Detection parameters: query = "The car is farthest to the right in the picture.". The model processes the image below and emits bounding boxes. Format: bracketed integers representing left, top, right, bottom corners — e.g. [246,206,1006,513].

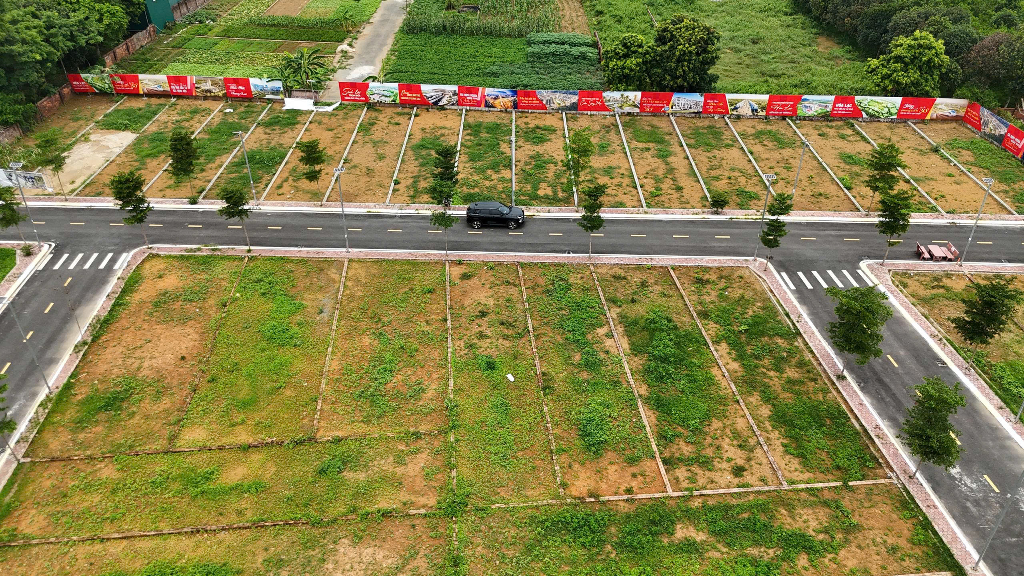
[464,200,524,230]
